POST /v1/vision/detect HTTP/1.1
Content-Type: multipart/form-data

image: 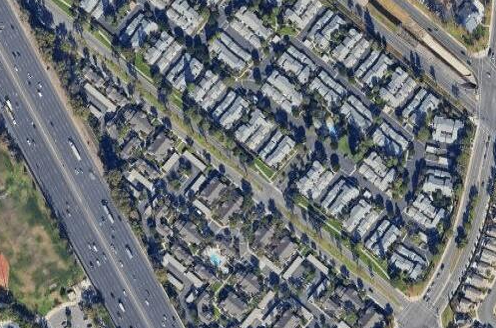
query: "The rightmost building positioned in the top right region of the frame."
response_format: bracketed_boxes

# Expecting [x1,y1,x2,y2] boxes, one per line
[463,0,485,31]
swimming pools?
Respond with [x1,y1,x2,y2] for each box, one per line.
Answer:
[326,114,339,137]
[206,246,225,266]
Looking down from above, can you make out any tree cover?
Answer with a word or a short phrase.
Yes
